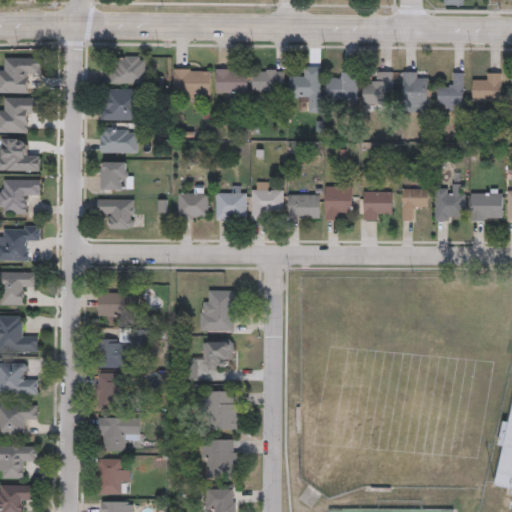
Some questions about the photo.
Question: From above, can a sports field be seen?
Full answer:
Yes, there's a sports field down there.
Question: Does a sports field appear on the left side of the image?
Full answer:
No, no sports field is visible on the left side of the image.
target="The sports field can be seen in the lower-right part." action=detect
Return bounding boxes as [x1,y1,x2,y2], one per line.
[315,346,494,458]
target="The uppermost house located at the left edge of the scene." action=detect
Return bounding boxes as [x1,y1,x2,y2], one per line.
[0,57,40,92]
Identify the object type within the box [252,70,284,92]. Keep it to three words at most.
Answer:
house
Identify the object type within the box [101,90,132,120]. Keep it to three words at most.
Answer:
house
